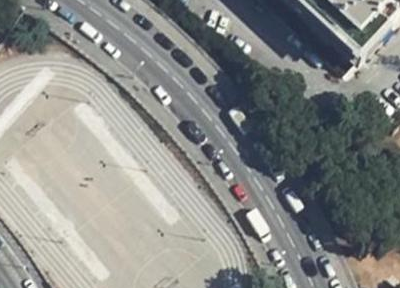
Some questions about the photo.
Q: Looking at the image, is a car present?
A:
Yes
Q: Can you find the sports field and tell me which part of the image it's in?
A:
left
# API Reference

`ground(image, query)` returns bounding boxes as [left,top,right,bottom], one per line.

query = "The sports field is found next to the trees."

[0,68,178,280]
